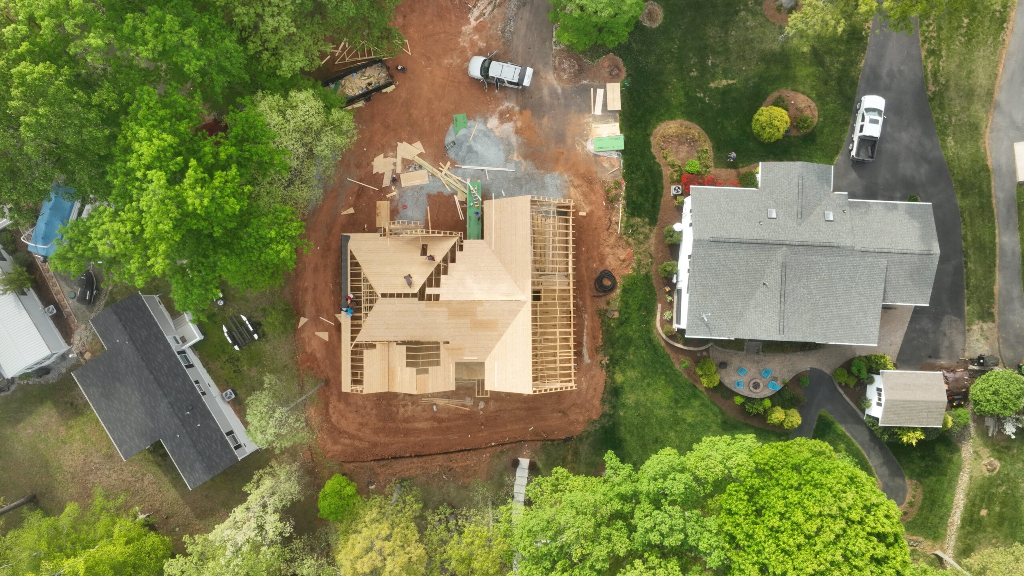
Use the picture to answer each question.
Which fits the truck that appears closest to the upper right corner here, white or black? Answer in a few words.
white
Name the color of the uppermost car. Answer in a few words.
white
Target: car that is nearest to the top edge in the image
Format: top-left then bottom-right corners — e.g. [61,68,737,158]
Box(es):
[469,46,532,90]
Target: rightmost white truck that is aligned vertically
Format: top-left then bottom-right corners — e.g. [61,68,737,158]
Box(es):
[848,96,888,164]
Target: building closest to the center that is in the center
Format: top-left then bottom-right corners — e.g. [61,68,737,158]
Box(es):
[342,195,576,397]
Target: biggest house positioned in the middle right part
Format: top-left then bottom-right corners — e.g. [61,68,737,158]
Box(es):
[661,161,939,347]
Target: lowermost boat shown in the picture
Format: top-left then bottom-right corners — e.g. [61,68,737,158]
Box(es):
[73,270,92,305]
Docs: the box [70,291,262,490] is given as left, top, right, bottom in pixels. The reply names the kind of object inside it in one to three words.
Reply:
house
